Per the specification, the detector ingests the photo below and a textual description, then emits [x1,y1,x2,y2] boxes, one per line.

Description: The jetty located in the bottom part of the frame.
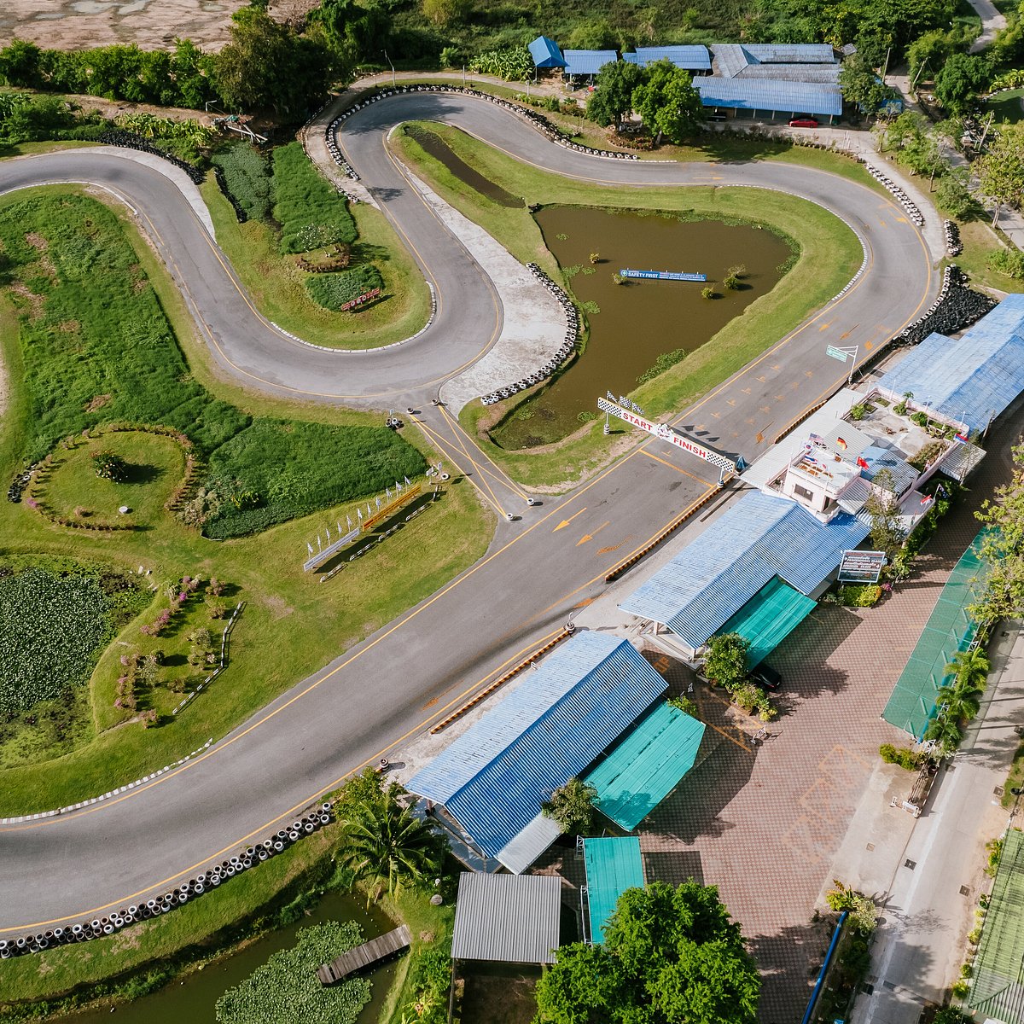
[317,926,411,984]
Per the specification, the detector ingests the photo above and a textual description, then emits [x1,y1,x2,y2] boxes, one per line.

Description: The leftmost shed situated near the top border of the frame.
[526,40,567,88]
